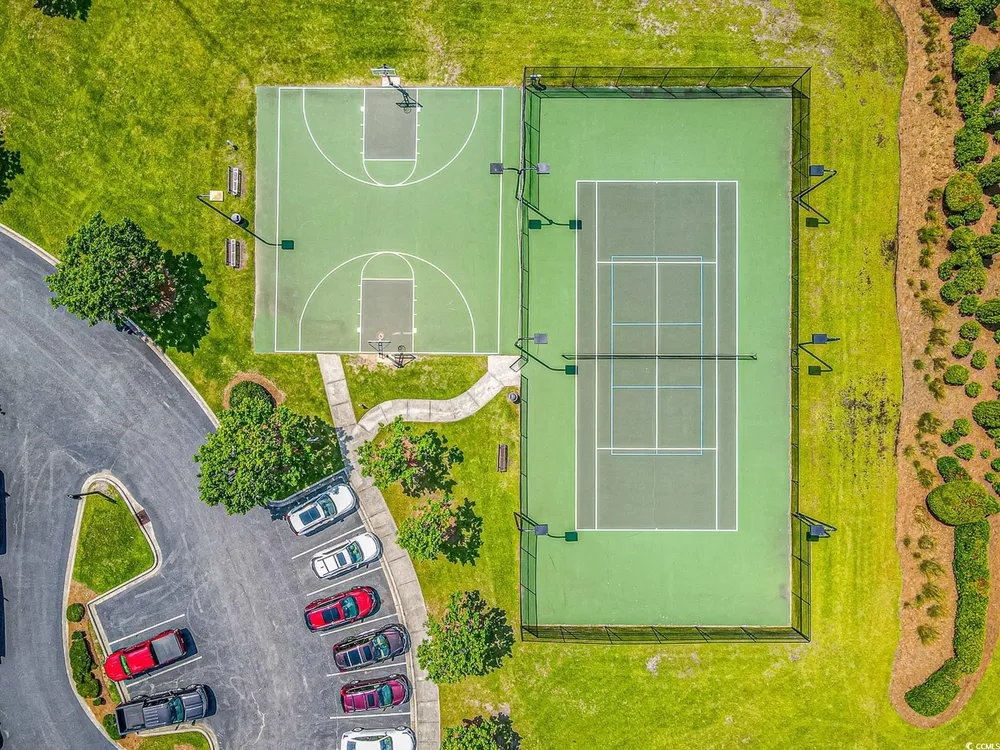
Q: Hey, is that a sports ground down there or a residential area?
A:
sports ground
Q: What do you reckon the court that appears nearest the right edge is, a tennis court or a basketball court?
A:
tennis court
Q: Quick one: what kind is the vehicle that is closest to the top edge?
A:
automobile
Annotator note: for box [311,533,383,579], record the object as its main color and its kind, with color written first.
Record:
white car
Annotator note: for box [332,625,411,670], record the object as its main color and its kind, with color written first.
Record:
gray car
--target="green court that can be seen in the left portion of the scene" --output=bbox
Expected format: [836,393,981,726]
[253,86,521,354]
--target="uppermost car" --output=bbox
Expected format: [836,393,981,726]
[285,485,360,536]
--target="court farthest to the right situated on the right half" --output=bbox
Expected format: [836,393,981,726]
[520,85,793,628]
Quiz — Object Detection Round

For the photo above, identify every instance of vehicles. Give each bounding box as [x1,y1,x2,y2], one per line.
[104,628,190,681]
[332,625,411,670]
[342,726,416,750]
[285,485,360,536]
[311,533,383,579]
[113,686,209,735]
[305,587,380,633]
[340,676,411,715]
